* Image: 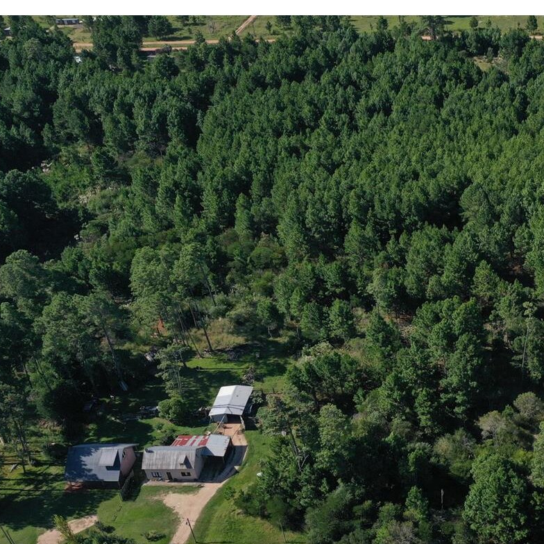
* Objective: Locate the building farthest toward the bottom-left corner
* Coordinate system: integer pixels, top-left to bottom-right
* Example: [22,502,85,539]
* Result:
[64,442,143,490]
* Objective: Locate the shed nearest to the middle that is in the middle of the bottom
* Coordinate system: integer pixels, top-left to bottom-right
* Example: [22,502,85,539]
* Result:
[207,385,256,425]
